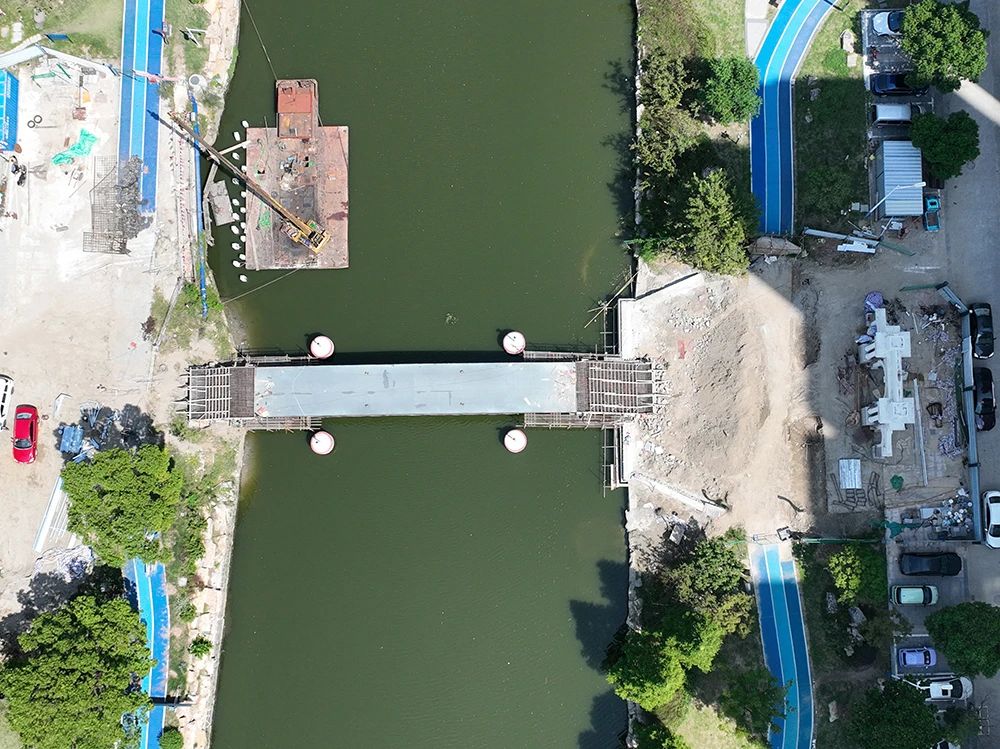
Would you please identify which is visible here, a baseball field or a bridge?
bridge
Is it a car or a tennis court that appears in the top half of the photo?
car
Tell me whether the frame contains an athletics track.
Yes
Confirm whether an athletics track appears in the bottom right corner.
Yes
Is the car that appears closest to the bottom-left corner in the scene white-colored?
No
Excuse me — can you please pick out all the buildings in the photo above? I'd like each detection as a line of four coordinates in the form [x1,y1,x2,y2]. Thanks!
[0,68,19,151]
[875,140,932,216]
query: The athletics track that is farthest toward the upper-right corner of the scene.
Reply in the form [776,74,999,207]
[750,0,836,236]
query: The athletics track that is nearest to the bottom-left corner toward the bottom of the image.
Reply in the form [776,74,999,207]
[119,552,170,749]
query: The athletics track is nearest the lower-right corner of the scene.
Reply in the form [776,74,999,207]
[749,543,814,749]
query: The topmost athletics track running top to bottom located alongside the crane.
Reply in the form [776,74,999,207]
[117,0,165,213]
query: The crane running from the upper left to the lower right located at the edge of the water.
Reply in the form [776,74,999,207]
[165,106,332,256]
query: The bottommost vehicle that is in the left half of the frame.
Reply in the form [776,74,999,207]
[9,404,44,463]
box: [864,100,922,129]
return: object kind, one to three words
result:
car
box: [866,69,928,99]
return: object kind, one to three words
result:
car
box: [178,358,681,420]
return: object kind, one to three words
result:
bridge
